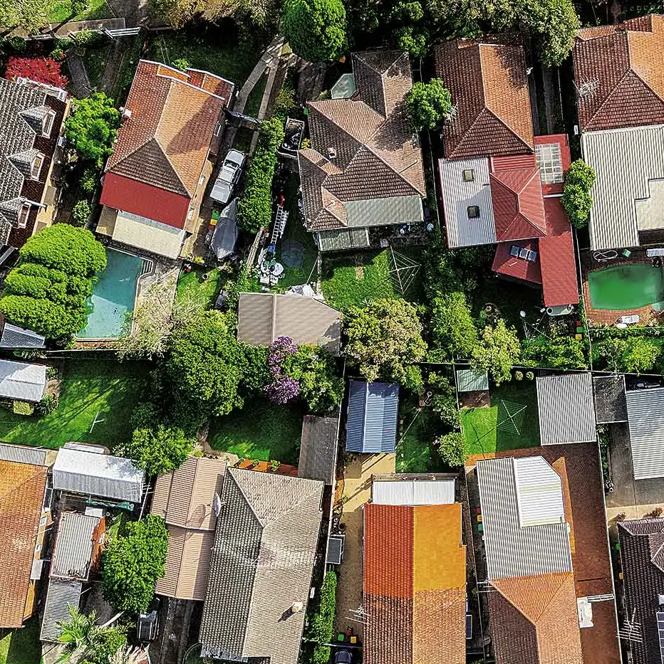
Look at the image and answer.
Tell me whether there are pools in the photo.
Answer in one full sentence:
Yes, there's a pool here.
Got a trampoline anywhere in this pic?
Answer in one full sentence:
Yes, there's a trampoline down there.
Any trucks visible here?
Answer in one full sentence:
Yes, the picture does show a truck.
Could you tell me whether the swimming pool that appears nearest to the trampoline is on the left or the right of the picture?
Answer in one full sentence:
It is on the left.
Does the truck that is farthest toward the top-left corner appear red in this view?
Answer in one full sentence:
No, the truck that is farthest toward the top-left corner is white.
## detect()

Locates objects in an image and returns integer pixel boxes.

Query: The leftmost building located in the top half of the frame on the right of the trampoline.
[297,52,425,254]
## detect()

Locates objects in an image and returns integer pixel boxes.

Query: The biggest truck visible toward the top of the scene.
[206,149,245,204]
